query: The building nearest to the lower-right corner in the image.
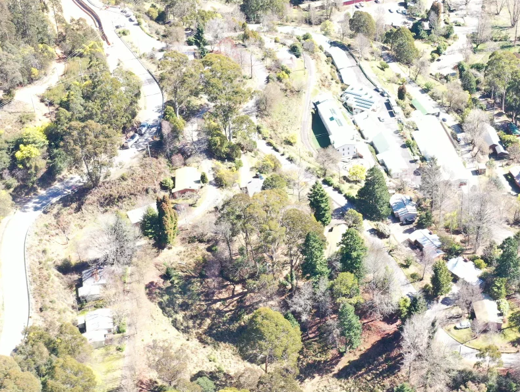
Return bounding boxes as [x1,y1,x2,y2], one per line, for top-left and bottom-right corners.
[468,298,505,335]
